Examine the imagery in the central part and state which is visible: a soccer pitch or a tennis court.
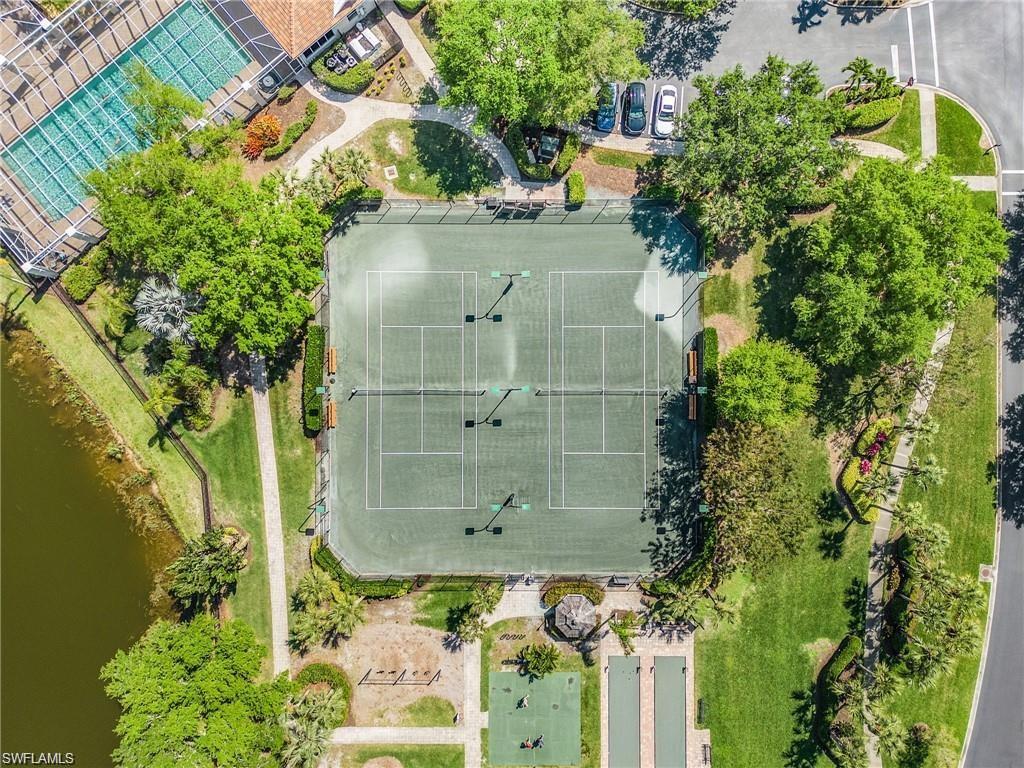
tennis court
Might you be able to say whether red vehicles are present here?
No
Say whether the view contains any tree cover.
Yes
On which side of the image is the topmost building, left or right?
left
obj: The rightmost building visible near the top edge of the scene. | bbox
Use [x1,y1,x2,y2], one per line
[246,0,380,62]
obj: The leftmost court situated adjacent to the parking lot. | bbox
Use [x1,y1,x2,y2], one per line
[329,207,512,575]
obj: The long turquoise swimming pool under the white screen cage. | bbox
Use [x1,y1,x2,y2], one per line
[0,0,253,225]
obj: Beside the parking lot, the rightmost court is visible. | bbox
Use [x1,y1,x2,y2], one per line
[512,207,696,575]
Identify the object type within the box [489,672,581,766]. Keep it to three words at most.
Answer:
sports court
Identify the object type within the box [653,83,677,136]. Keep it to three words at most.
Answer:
car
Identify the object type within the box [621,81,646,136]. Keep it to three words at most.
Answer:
car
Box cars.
[594,81,618,132]
[621,81,646,136]
[653,83,677,136]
